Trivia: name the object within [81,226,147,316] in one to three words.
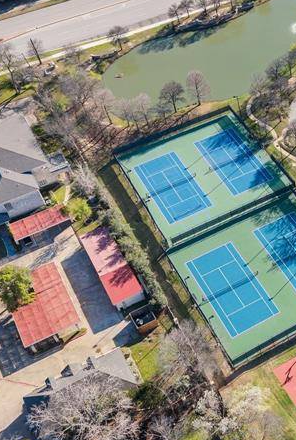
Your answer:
building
